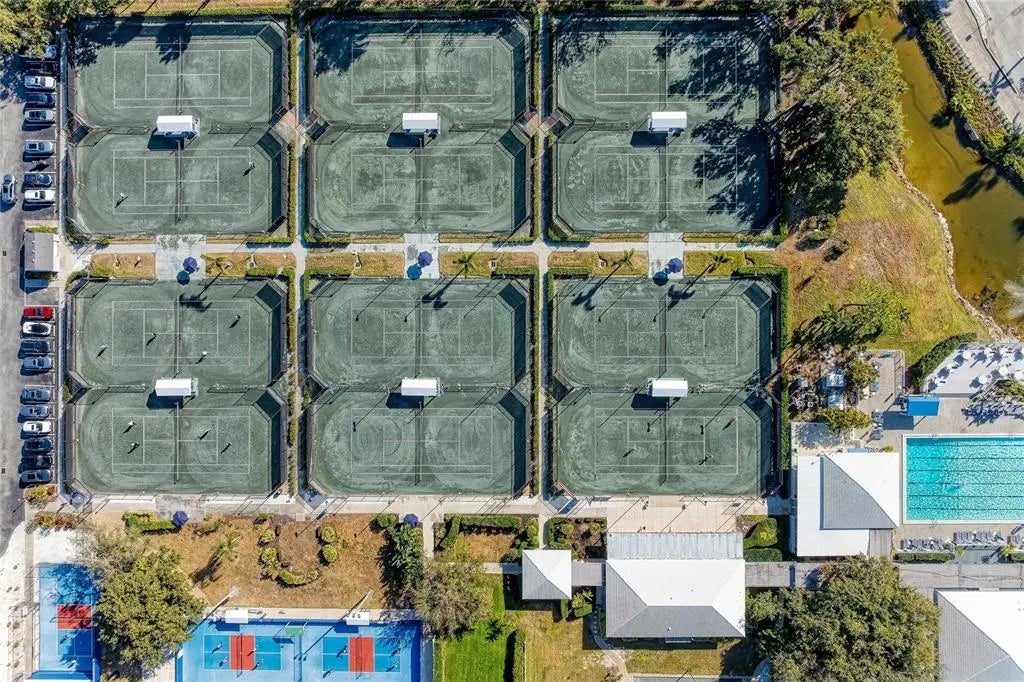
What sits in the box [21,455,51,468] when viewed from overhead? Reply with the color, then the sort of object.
black vehicle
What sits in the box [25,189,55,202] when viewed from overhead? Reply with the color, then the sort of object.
white vehicle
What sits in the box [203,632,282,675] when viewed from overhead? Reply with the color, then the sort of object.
blue sports court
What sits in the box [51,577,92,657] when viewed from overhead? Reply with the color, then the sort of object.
blue sports court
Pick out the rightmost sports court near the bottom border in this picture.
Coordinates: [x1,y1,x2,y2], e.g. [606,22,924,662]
[322,634,401,677]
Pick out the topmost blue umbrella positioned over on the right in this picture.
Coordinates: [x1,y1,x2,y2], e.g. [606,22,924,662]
[667,258,682,272]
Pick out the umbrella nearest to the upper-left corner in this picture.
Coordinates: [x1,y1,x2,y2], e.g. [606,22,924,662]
[183,258,197,272]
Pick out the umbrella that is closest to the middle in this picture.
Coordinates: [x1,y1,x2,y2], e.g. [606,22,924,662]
[418,251,432,266]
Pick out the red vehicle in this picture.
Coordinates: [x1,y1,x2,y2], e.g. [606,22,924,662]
[23,305,53,319]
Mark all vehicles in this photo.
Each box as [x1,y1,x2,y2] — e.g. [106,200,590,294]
[26,75,56,90]
[22,471,51,484]
[25,109,55,123]
[21,340,51,353]
[1,175,17,203]
[25,173,53,186]
[21,455,51,468]
[21,405,48,417]
[24,421,52,434]
[22,321,52,335]
[27,61,56,75]
[25,91,55,106]
[22,389,51,402]
[25,189,55,202]
[23,357,53,370]
[27,141,53,154]
[24,438,53,451]
[23,305,53,319]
